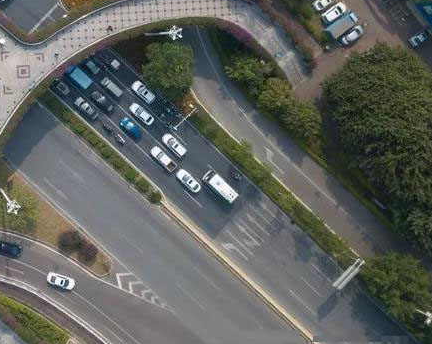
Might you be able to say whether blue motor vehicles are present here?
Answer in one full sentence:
Yes, this view includes a blue motor vehicle.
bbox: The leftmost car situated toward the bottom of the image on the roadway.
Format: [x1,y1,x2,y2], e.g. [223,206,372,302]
[0,240,23,256]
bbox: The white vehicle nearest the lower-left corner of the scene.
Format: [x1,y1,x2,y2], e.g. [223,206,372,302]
[46,272,74,289]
